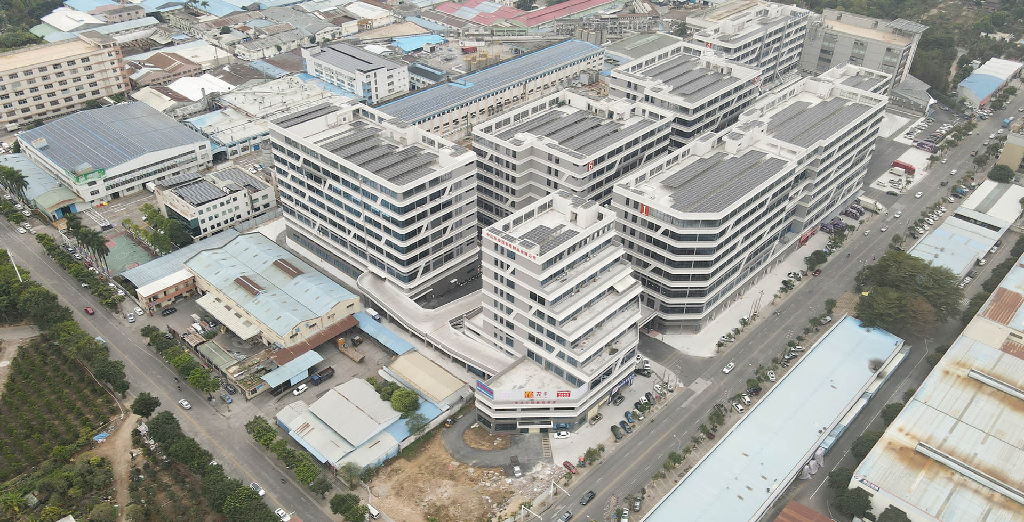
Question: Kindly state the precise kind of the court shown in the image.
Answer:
basketball court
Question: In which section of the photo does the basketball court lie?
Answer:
left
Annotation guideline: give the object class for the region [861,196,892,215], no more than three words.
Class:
vehicle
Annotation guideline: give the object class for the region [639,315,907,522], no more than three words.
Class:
building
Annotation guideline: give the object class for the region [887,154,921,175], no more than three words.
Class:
truck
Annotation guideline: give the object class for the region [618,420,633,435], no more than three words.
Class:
car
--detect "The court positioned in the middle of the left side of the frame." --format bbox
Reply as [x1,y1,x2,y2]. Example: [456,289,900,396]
[86,234,152,291]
